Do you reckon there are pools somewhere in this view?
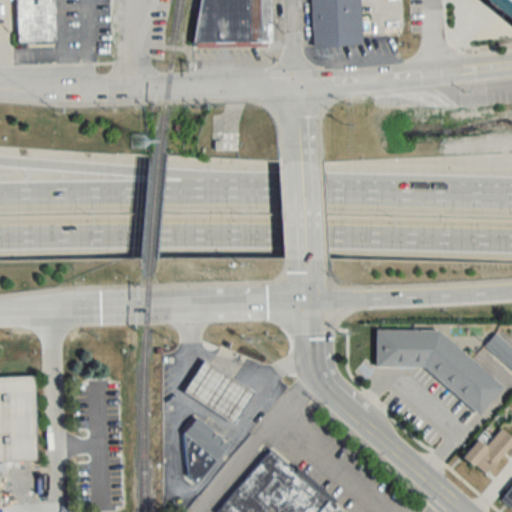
No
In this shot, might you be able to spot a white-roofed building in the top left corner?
Yes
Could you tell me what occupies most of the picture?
paved ground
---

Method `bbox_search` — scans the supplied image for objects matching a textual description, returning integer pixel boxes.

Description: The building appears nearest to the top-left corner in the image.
[18,0,59,48]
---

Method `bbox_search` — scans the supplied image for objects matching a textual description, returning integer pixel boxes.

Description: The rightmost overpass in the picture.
[279,156,329,262]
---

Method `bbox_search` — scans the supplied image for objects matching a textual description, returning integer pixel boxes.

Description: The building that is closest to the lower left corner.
[0,376,40,462]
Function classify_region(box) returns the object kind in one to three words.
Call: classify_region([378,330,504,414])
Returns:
building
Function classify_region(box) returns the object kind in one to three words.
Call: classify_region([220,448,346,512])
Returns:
building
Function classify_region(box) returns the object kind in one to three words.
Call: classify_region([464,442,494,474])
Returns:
house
